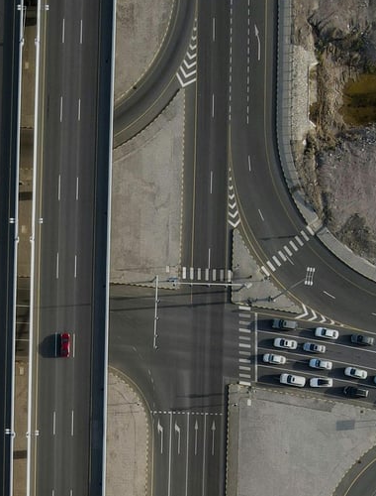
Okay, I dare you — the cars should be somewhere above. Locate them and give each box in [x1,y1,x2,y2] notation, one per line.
[303,343,326,354]
[316,328,338,340]
[344,367,368,379]
[274,337,297,350]
[281,374,304,387]
[344,387,368,399]
[351,333,375,346]
[310,359,332,370]
[310,376,333,389]
[274,319,296,330]
[263,354,286,365]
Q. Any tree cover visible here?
No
